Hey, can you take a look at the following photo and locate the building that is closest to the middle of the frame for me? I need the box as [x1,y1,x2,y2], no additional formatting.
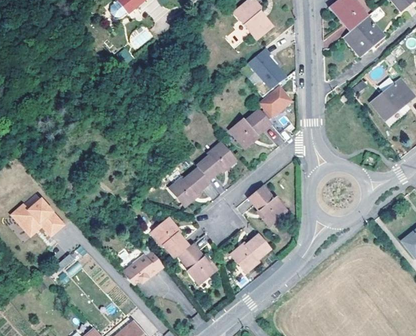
[168,142,238,208]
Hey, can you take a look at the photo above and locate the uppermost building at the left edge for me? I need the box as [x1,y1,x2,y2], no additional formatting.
[10,198,66,238]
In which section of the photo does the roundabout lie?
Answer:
right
